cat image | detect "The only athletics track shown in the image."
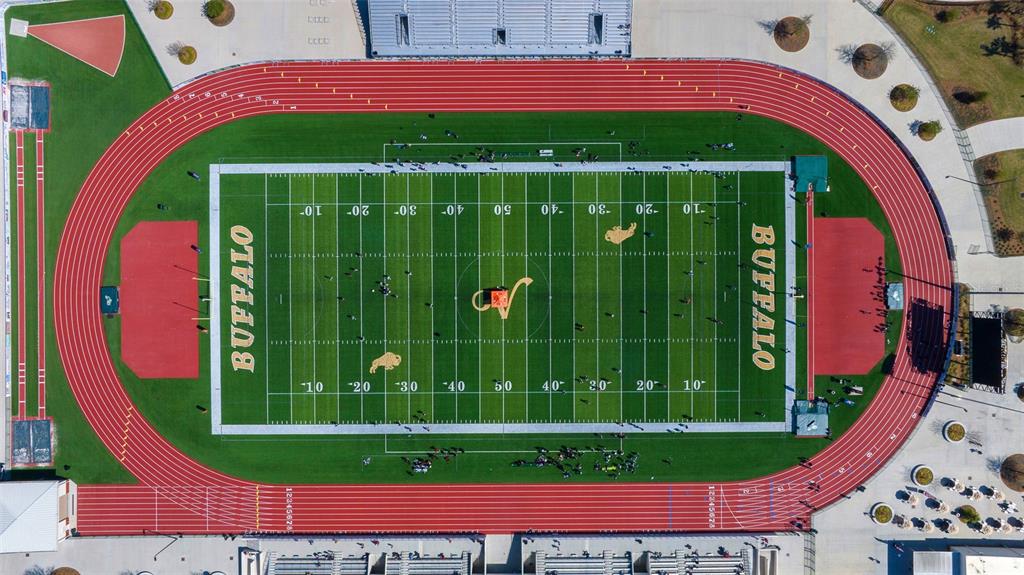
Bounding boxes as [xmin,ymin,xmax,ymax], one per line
[54,60,954,538]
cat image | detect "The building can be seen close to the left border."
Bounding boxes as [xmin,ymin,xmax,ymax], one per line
[0,481,78,554]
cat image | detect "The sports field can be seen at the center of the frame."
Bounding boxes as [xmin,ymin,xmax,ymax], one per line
[209,124,796,470]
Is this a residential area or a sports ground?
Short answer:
sports ground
